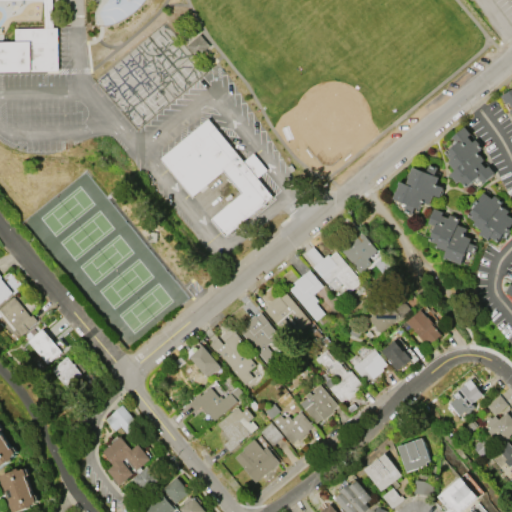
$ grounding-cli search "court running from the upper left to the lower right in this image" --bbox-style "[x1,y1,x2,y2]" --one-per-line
[26,172,190,350]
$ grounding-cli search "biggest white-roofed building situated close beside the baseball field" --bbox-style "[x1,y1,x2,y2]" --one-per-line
[162,118,276,236]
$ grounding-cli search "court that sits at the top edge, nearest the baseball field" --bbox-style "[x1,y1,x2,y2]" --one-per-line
[95,0,148,27]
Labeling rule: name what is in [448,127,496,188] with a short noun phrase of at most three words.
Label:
building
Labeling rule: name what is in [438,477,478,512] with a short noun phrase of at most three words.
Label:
house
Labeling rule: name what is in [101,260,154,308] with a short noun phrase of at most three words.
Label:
tennis court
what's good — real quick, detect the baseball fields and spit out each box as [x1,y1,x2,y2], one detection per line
[184,0,486,174]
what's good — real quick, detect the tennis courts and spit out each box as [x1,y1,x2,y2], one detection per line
[82,235,134,284]
[26,172,190,350]
[42,186,96,236]
[120,284,174,333]
[101,260,154,308]
[62,211,115,260]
